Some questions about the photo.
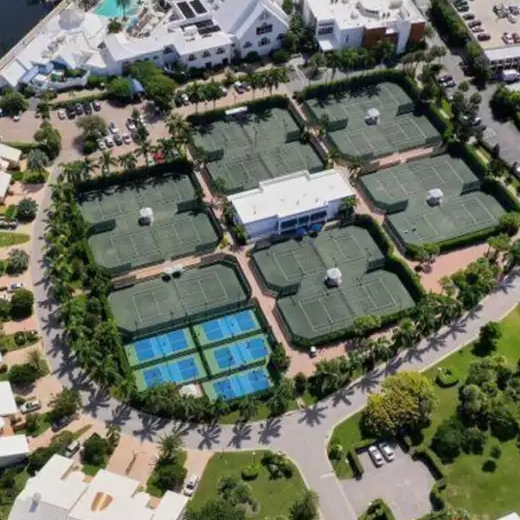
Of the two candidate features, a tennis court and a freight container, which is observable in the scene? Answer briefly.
tennis court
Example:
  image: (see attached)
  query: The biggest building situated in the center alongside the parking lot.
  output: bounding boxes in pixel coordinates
[226,169,355,246]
